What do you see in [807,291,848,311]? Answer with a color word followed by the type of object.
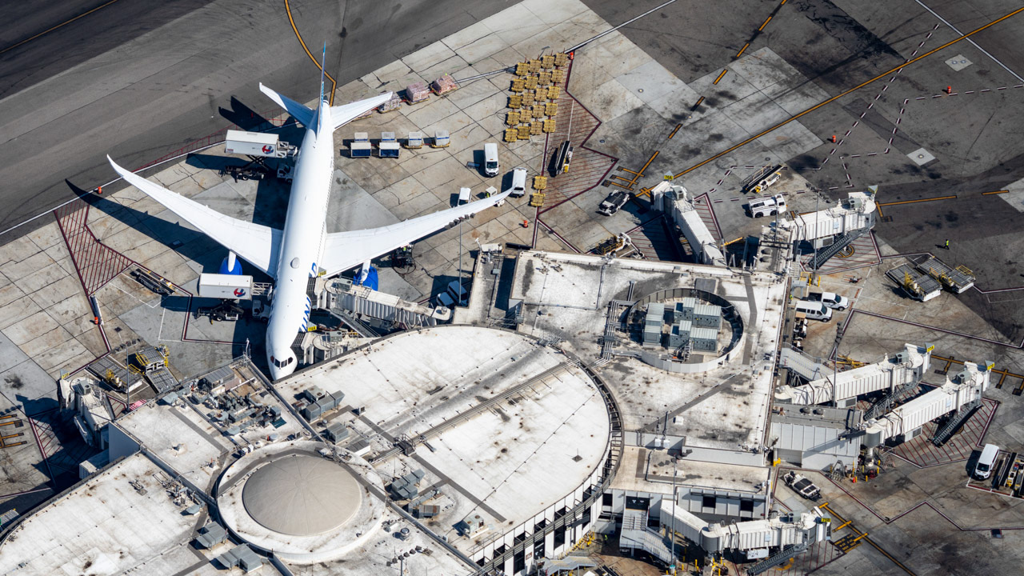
white vehicle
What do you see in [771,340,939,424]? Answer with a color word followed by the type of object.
white jet bridge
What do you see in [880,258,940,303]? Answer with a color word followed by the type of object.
gray work vehicle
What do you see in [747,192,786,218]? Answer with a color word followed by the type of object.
white work vehicle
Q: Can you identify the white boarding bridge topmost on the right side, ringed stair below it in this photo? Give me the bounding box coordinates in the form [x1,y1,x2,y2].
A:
[764,183,885,277]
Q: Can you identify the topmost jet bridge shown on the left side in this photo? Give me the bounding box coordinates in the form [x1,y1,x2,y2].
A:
[304,266,452,331]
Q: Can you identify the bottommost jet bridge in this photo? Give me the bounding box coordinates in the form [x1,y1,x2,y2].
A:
[657,502,836,576]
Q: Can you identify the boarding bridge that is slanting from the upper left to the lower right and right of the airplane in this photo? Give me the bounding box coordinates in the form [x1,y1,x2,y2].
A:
[645,171,741,267]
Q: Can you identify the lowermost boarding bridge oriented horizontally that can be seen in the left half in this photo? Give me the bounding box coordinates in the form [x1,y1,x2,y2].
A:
[291,319,427,366]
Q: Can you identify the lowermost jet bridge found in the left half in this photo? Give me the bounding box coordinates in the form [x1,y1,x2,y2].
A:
[55,368,115,446]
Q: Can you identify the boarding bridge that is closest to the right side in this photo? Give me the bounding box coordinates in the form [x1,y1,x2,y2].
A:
[861,359,998,474]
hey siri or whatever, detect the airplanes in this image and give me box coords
[107,41,512,380]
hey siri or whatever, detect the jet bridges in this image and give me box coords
[304,266,452,331]
[291,319,427,366]
[55,368,115,446]
[764,183,885,277]
[645,171,741,267]
[771,340,939,424]
[861,359,998,474]
[657,502,836,576]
